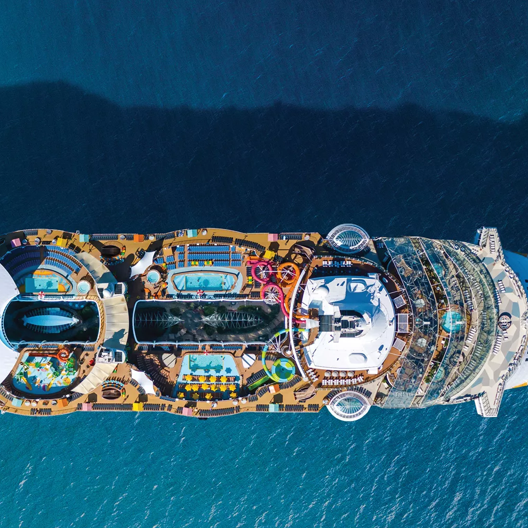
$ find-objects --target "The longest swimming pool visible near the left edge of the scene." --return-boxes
[12,265,78,297]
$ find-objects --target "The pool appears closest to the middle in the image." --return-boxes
[164,268,245,295]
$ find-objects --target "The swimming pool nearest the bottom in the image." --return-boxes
[178,352,240,398]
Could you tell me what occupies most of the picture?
water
